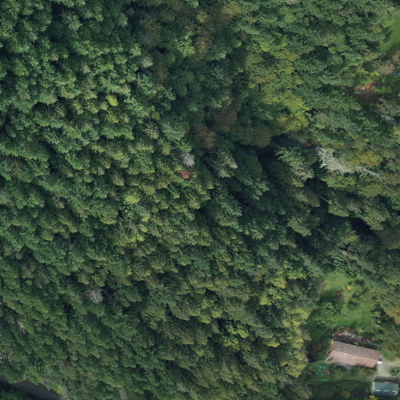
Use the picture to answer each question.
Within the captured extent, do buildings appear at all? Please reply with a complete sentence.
Yes, you can see a building in this photo.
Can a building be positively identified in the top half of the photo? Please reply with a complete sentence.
No, I see no building in the top half of the photo.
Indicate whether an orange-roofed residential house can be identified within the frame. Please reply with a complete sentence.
No, the picture doesn't show any orange-roofed residential house.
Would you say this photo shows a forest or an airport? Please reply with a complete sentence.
This image shows a forest.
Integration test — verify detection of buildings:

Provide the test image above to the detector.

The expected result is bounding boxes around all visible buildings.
[326,339,380,368]
[368,378,399,397]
